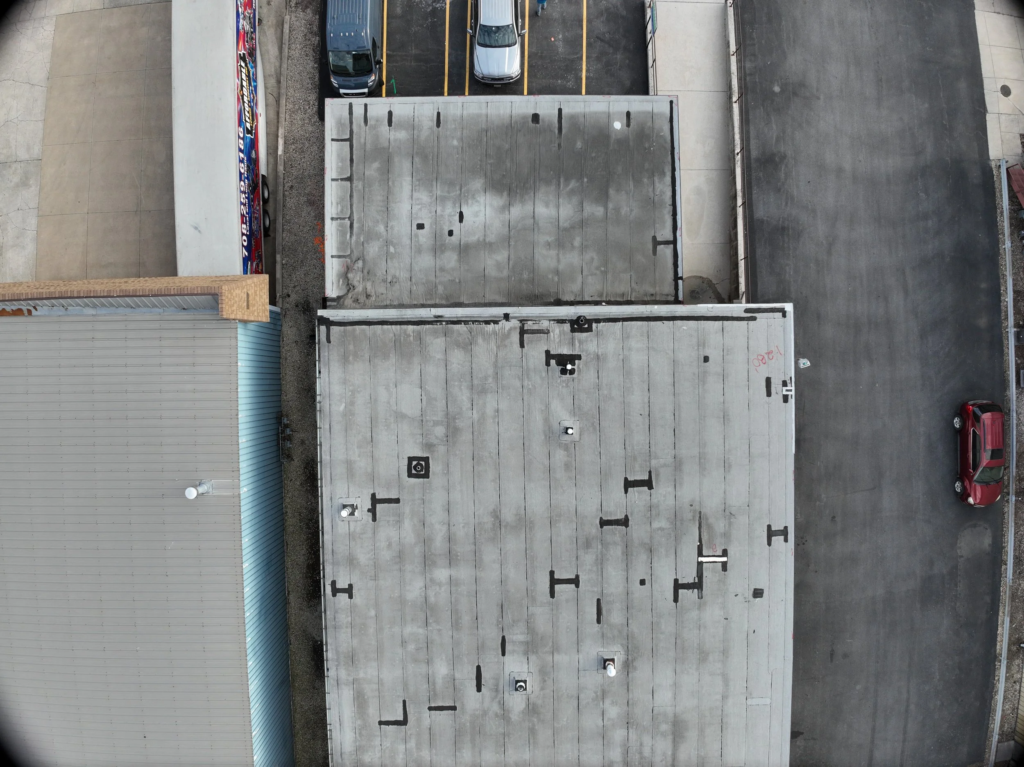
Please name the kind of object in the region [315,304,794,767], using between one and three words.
building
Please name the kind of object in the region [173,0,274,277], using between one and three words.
trailer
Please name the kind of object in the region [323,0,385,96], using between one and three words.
van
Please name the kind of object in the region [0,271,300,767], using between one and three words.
building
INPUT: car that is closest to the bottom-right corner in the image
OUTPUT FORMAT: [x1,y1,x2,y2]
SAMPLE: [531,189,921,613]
[948,400,1010,508]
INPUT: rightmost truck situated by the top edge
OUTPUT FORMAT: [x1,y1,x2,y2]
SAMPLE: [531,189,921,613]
[467,0,527,87]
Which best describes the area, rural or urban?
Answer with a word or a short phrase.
urban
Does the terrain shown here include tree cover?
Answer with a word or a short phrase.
No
